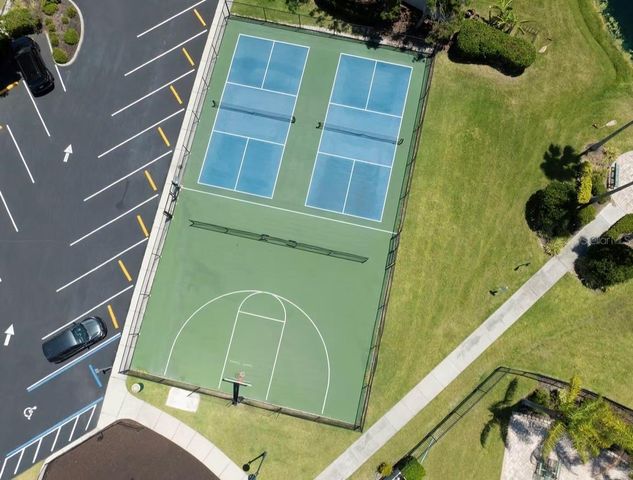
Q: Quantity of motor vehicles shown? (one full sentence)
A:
I count 2 motor vehicles.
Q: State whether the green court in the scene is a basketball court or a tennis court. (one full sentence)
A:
From above, the green court can be identified as a basketball court.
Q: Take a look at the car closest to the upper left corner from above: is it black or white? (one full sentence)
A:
The car closest to the upper left corner is black.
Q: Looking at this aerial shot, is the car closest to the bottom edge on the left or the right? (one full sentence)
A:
The car closest to the bottom edge sits on the left side.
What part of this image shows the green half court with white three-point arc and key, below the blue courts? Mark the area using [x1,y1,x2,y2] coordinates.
[130,187,397,425]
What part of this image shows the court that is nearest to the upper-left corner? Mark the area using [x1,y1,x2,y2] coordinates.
[197,33,310,199]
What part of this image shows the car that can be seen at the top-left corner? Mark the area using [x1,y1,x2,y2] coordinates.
[12,36,55,98]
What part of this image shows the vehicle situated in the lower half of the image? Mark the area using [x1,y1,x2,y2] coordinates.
[40,317,107,363]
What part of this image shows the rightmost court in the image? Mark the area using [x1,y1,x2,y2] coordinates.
[305,53,413,222]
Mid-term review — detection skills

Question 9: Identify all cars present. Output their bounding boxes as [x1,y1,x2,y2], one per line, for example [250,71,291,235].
[40,317,107,363]
[12,36,55,98]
